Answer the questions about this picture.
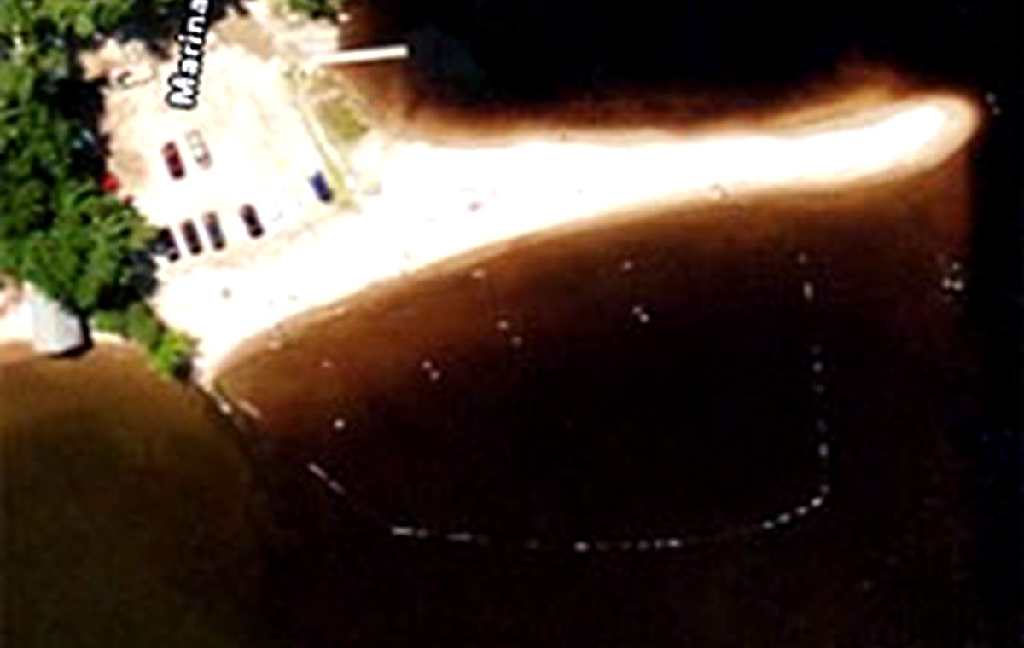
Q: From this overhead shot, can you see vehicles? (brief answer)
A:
Yes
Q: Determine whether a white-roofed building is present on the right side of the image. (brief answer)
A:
No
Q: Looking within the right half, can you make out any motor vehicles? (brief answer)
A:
No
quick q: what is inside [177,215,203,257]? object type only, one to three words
car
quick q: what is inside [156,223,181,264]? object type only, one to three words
car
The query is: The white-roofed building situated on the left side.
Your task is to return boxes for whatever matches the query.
[21,288,82,354]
